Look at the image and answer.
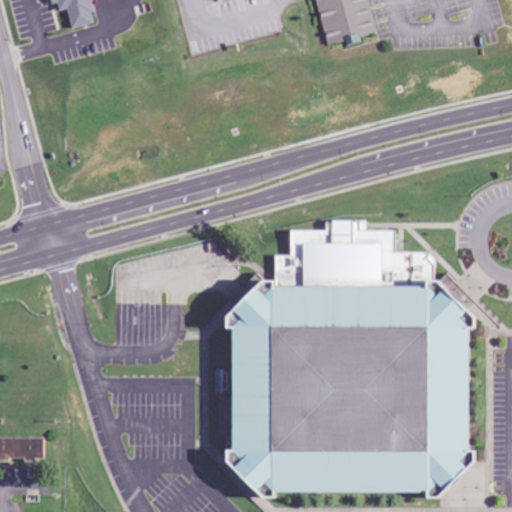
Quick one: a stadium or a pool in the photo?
stadium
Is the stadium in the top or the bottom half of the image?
bottom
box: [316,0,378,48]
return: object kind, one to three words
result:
building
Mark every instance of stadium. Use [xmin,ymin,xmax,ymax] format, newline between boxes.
[226,281,478,500]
